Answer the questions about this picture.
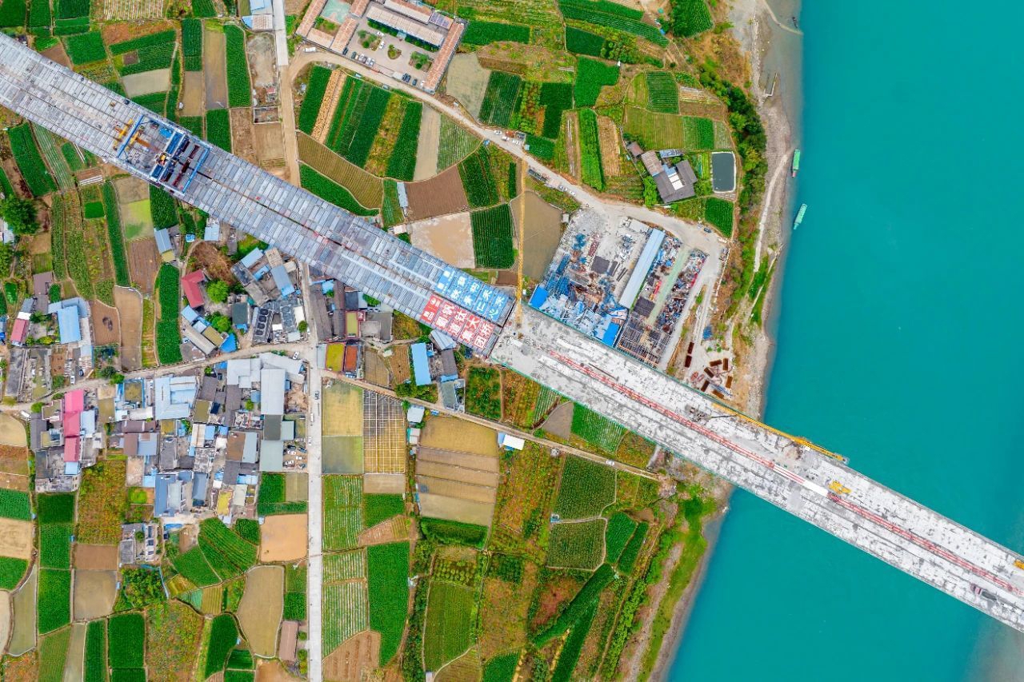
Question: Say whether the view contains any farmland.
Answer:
Yes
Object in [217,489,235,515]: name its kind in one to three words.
house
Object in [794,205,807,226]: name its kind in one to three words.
boat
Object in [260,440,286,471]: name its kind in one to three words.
barn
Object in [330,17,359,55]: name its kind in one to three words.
building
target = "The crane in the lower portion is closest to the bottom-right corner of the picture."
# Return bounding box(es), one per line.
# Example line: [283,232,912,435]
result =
[714,403,847,463]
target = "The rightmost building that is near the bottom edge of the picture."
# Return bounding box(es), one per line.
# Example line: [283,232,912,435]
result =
[279,620,299,662]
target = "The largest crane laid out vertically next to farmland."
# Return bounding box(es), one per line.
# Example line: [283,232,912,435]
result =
[514,156,526,345]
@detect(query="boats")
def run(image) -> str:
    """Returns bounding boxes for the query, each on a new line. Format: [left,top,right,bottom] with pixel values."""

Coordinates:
[794,205,807,226]
[793,150,801,175]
